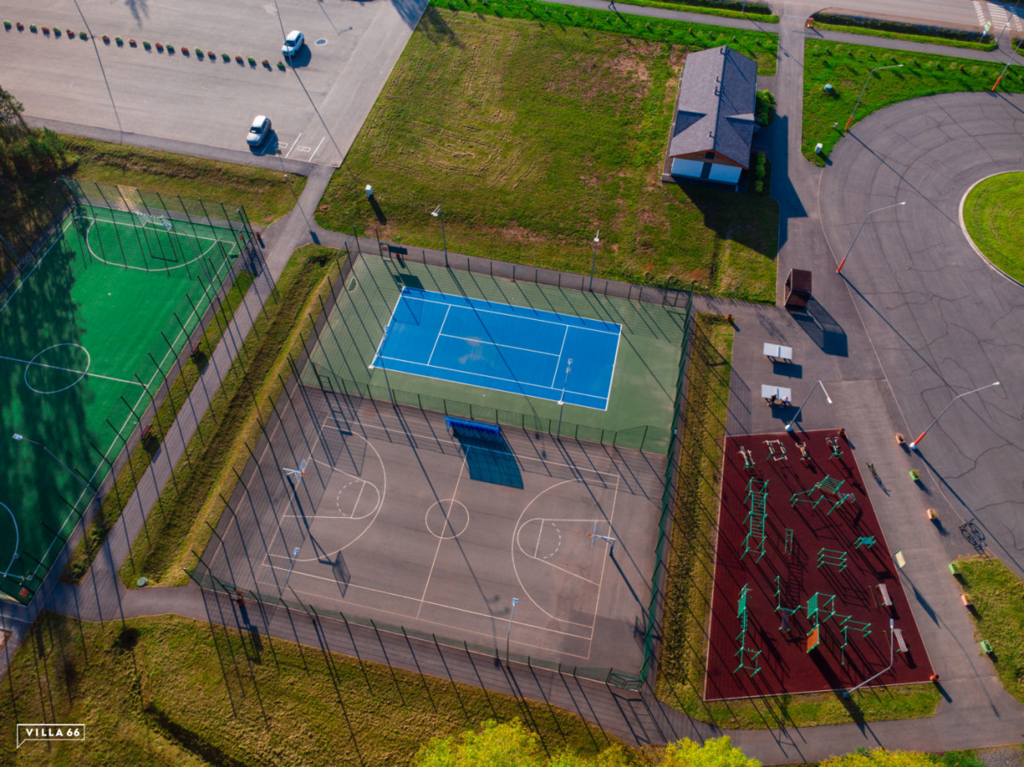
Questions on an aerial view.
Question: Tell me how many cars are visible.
2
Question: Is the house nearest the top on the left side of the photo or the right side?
right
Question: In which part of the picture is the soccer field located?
left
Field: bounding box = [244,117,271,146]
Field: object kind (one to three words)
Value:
car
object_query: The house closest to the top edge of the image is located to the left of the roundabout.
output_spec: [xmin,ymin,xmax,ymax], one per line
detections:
[659,43,756,192]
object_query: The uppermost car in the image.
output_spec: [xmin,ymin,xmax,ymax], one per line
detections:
[280,29,302,54]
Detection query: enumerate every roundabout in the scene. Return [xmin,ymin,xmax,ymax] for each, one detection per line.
[820,92,1024,578]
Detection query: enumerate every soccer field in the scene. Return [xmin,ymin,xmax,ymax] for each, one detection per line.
[0,203,254,608]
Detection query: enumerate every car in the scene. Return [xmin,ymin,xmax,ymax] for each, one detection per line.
[244,117,271,146]
[280,29,302,54]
